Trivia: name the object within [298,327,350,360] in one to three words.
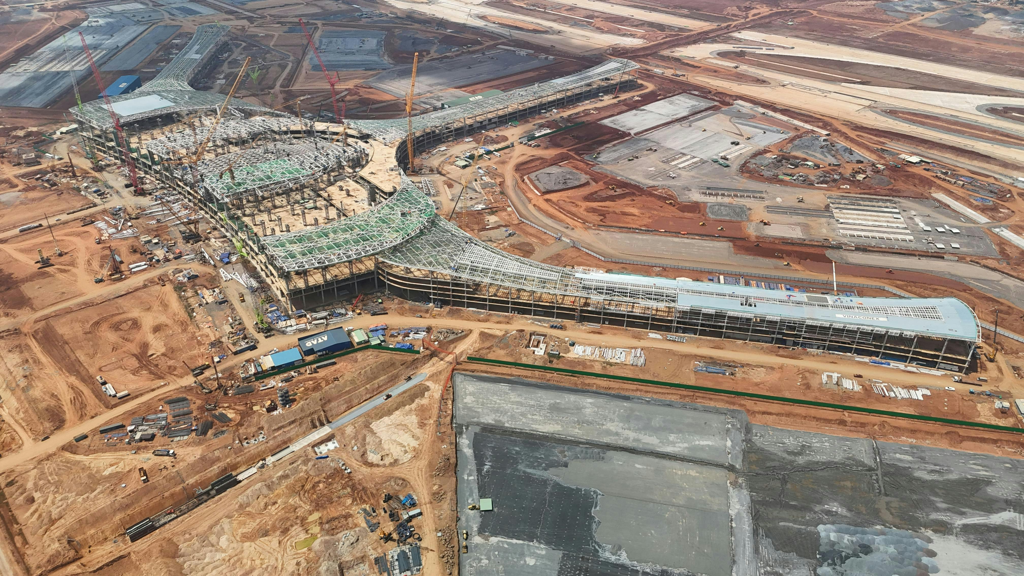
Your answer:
shed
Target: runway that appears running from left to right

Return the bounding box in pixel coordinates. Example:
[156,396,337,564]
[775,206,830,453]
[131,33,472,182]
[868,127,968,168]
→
[391,0,1024,144]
